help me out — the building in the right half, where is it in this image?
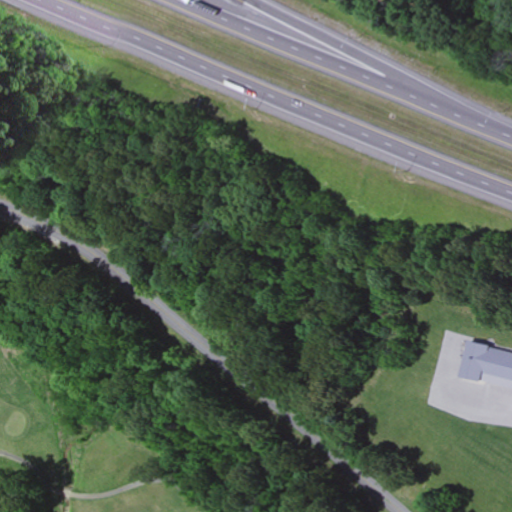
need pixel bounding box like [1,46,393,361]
[458,341,512,382]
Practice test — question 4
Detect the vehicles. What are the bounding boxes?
[184,0,220,14]
[221,79,254,98]
[292,100,302,106]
